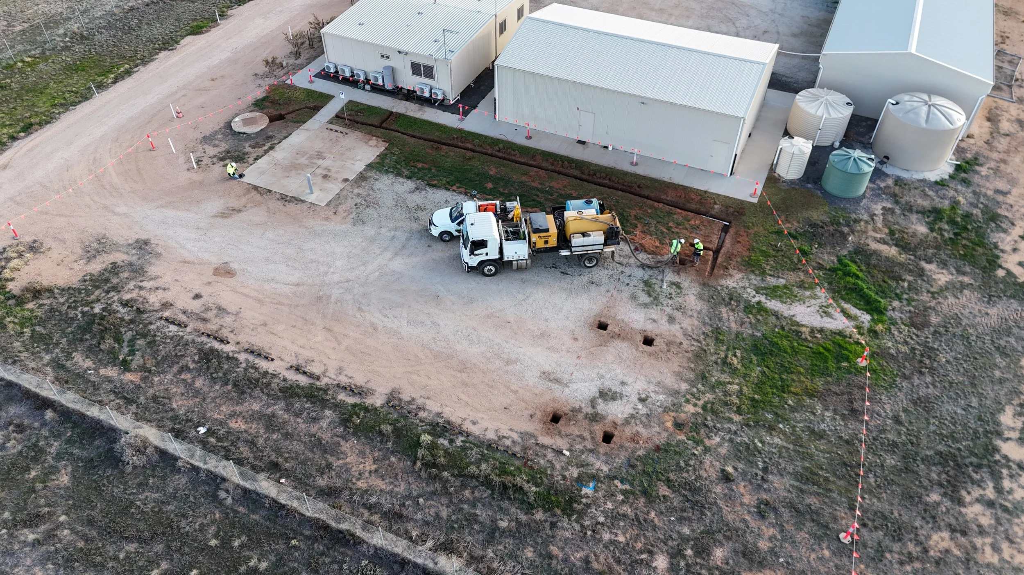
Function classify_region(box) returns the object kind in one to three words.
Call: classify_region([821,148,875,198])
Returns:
water tank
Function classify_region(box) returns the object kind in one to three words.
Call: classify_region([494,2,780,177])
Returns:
shed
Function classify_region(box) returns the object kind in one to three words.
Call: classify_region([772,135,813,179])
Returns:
water tank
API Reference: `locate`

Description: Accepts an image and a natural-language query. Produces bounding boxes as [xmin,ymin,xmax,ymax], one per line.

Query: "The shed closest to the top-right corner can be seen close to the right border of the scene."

[812,0,997,137]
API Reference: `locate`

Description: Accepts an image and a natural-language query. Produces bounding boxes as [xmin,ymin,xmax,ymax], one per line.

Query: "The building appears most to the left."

[319,0,533,103]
